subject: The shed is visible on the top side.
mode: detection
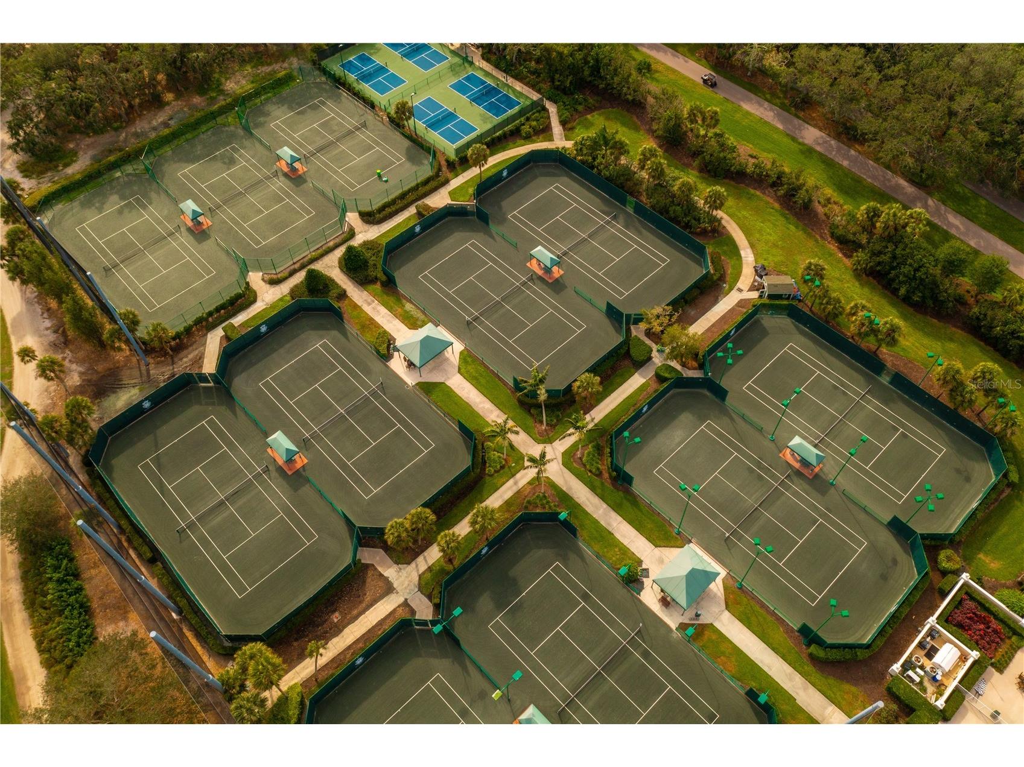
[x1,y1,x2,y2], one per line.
[755,280,791,304]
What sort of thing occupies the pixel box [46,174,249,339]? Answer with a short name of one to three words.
tennis court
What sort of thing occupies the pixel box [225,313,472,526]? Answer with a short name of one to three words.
tennis court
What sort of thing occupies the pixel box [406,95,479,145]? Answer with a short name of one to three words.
sports court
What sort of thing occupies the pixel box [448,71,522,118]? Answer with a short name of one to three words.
sports court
